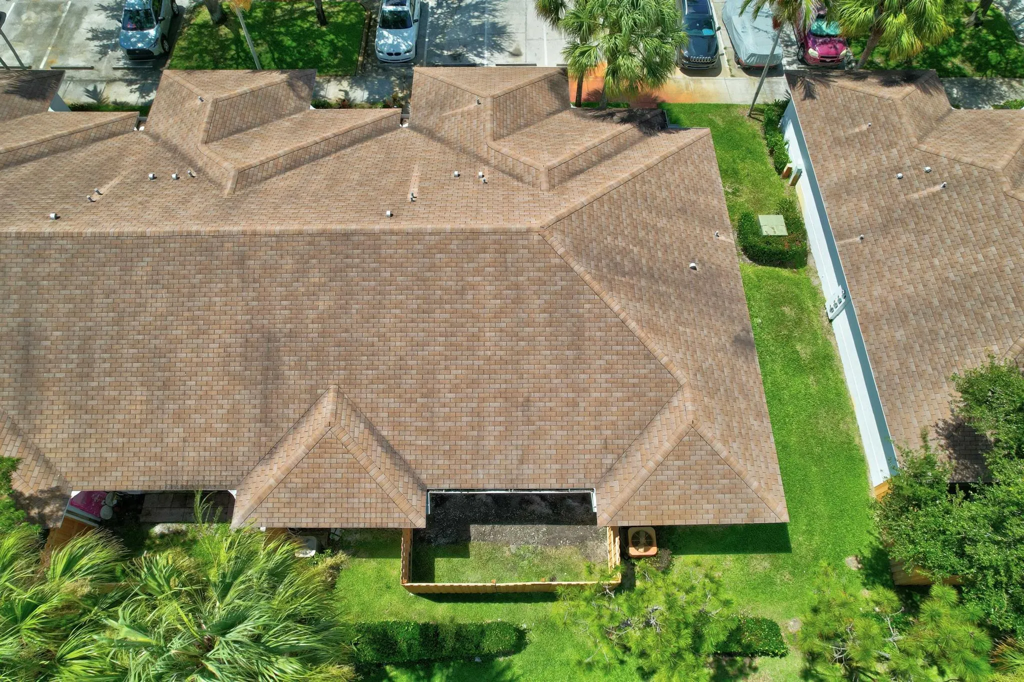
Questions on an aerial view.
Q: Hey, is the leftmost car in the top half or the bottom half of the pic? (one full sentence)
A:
The leftmost car sits in the top half of the picture.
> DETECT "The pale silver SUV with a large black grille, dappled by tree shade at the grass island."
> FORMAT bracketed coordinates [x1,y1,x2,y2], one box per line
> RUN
[118,0,188,58]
